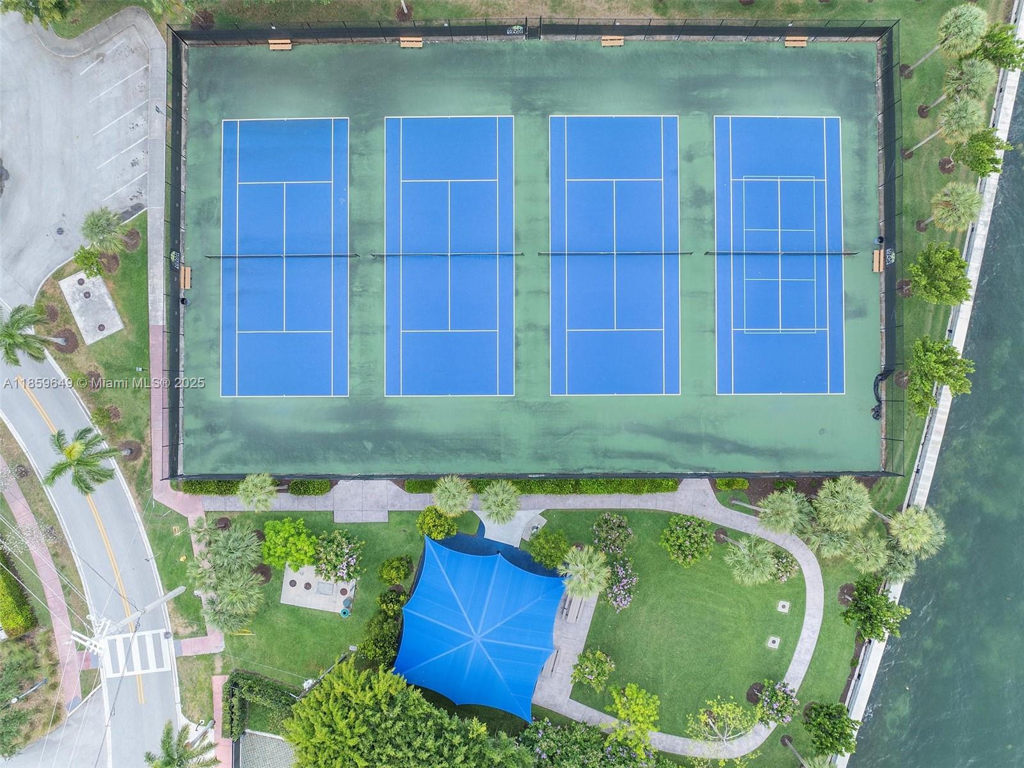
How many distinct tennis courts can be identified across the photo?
four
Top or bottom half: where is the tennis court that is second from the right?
top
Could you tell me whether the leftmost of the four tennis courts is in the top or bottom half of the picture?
top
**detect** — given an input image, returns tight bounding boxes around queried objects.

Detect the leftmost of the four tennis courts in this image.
[204,119,361,397]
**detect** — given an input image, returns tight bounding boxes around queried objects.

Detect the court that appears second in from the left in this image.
[371,117,526,395]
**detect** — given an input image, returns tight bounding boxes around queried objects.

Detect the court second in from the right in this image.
[539,116,694,394]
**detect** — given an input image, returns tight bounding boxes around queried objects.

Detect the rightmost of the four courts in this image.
[703,116,861,394]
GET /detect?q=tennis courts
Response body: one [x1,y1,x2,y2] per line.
[204,119,361,397]
[539,116,694,394]
[371,117,526,395]
[703,116,861,394]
